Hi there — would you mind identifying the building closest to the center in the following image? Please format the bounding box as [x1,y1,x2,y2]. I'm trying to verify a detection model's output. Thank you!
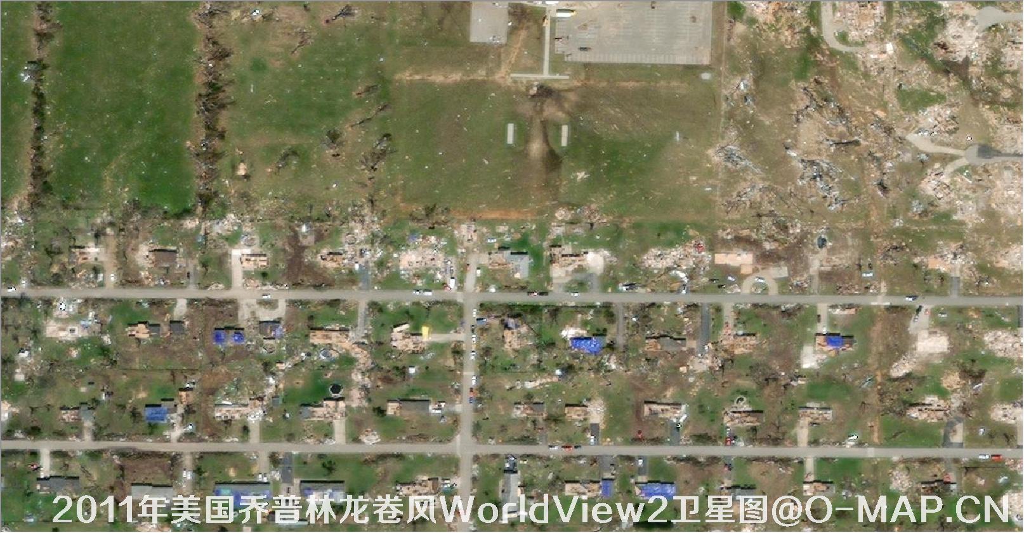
[484,247,534,284]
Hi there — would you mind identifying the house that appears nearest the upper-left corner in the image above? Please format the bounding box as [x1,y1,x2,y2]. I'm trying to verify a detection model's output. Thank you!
[67,245,111,269]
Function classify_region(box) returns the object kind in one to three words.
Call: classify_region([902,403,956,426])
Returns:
house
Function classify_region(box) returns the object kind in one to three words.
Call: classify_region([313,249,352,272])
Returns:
house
